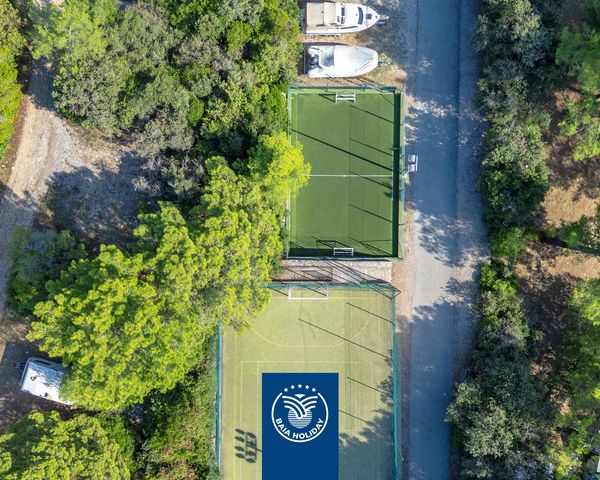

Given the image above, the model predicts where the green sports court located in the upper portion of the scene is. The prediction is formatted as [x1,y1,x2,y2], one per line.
[289,89,402,257]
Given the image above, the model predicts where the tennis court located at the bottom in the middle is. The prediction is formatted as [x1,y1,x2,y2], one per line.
[220,285,396,480]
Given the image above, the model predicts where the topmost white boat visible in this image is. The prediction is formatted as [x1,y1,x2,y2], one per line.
[302,1,383,33]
